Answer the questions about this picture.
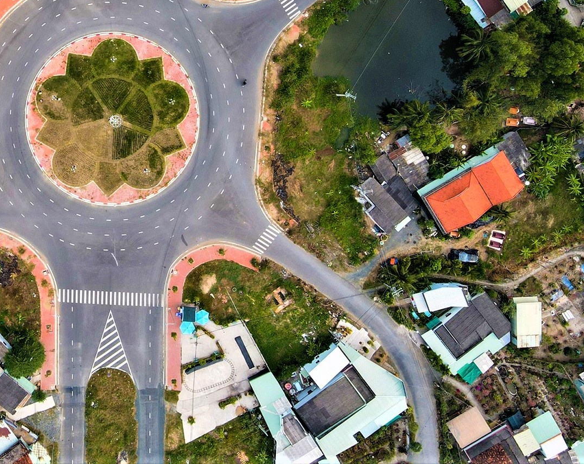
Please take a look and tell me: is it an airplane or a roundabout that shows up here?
roundabout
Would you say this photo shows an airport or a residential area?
residential area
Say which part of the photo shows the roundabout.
top left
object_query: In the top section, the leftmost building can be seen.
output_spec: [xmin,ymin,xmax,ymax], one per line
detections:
[357,134,430,234]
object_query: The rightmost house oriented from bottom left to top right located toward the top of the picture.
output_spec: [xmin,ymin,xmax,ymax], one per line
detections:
[413,132,531,233]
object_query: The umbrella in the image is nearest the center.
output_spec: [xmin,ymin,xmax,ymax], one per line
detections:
[195,310,208,324]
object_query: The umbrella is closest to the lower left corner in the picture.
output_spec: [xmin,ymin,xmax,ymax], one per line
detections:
[180,322,194,335]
